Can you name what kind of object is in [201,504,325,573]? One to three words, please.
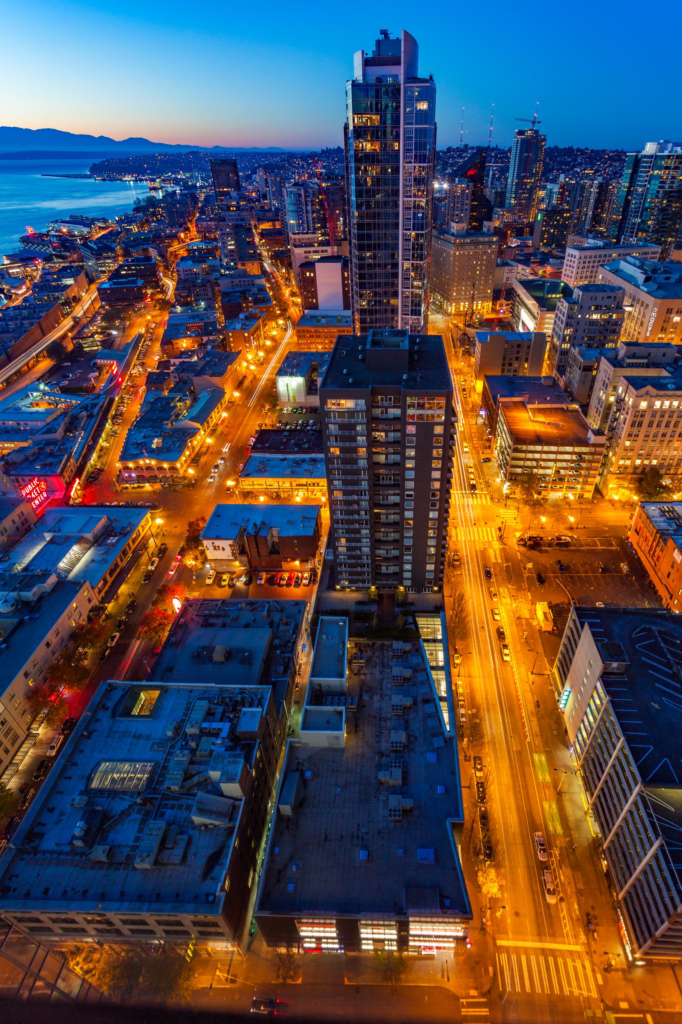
building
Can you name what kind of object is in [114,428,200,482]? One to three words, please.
building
